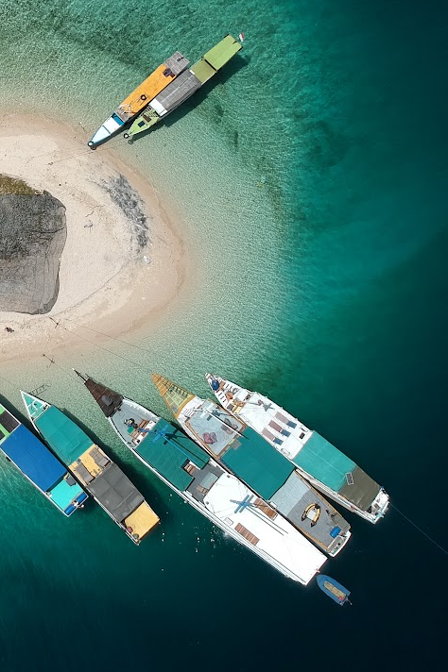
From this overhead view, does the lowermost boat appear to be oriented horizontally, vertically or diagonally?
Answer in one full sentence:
From this overhead view, the lowermost boat appears to run diagonally.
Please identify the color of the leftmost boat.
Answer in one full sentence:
In this view, the leftmost boat is blue.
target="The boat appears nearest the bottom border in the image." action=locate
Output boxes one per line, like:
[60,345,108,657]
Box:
[314,573,352,605]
